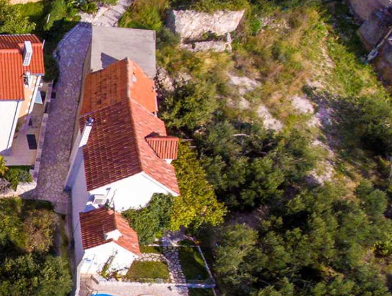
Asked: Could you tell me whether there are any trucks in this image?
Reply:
No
